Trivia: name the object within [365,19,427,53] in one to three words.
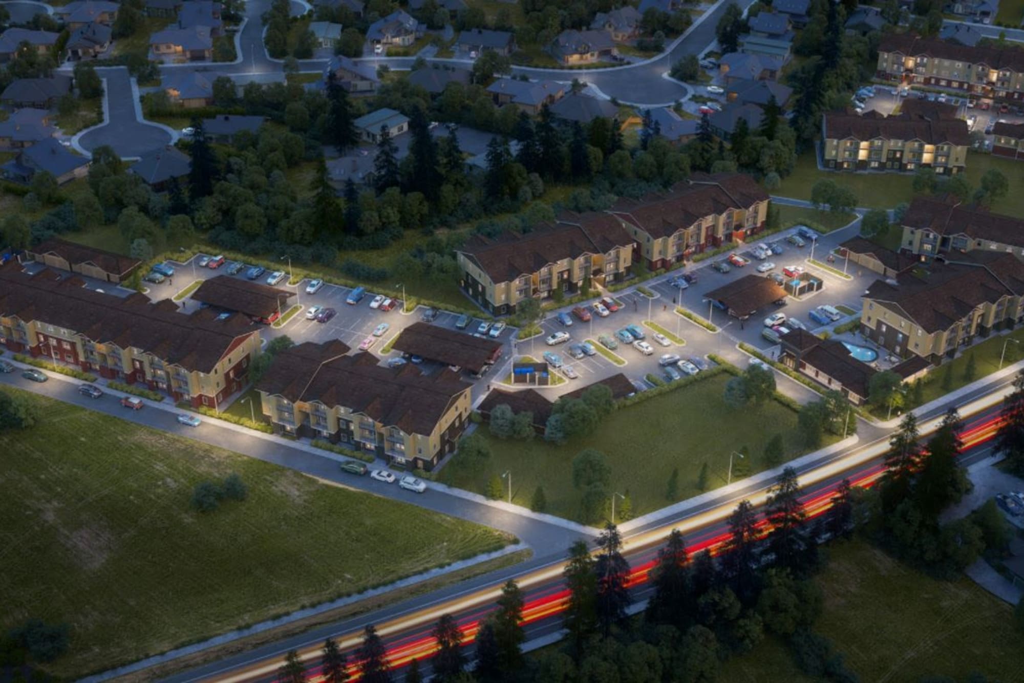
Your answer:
house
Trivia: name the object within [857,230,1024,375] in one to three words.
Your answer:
building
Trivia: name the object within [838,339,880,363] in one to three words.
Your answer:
swimming pool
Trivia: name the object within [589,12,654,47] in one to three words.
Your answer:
house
